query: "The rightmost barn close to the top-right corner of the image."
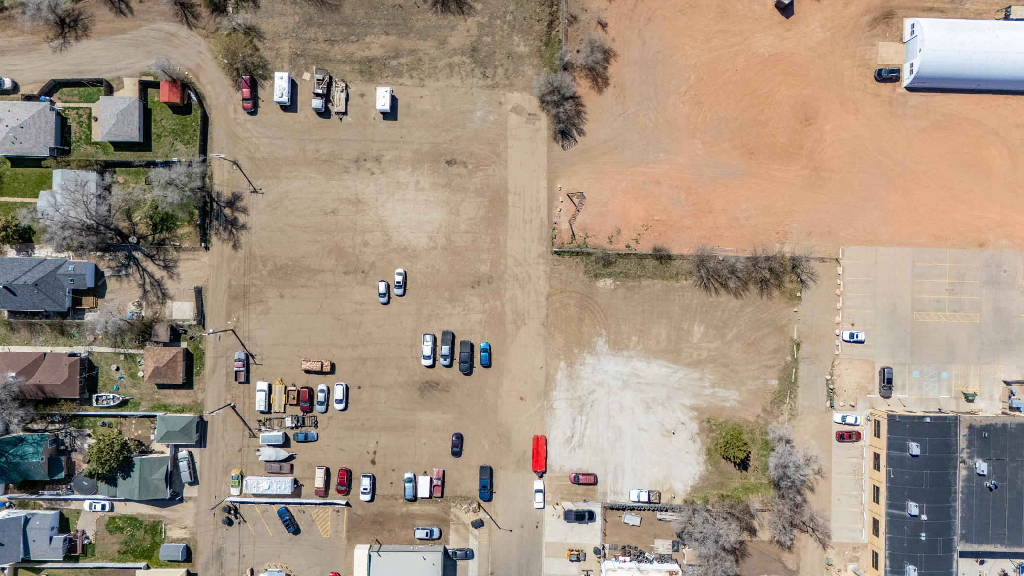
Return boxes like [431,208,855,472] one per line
[905,17,1024,90]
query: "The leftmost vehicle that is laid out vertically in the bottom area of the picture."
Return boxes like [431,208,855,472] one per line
[176,448,195,483]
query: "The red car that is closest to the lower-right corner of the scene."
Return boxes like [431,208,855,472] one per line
[834,430,860,443]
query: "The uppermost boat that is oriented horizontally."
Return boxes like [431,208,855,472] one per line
[95,393,131,406]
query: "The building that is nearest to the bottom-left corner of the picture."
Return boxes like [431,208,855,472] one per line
[0,511,78,563]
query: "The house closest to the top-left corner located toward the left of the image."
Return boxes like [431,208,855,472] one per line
[0,100,61,156]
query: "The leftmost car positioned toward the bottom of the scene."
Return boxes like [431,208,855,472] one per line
[84,499,113,513]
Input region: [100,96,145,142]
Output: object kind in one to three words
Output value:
building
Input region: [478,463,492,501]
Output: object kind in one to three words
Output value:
vehicle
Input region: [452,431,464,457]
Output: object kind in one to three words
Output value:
vehicle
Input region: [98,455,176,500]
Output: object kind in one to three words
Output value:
house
